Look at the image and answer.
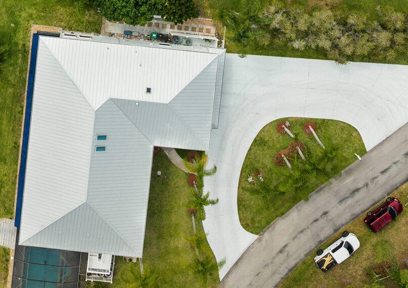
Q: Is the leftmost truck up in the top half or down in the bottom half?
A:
bottom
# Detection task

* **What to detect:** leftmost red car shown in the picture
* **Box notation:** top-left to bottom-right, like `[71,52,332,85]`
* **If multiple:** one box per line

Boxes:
[361,198,401,233]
